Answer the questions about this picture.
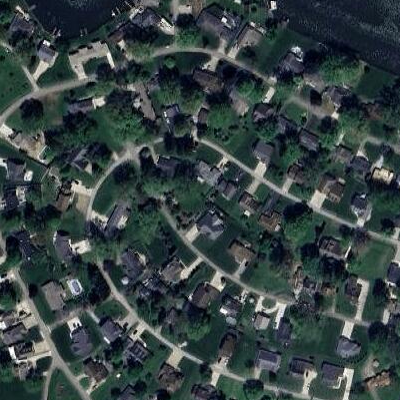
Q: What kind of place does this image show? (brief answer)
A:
residential area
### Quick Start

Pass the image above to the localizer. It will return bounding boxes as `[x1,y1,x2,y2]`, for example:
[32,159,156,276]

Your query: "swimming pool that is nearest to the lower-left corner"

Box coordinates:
[66,277,85,299]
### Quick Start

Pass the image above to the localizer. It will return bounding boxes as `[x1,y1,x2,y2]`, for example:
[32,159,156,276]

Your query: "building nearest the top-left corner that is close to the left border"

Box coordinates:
[9,14,36,37]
